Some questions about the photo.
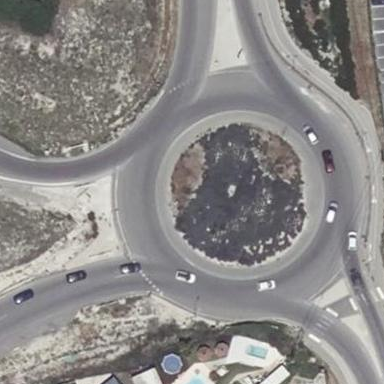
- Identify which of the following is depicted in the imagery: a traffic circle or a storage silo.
traffic circle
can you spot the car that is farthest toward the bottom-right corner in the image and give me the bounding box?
[348,266,361,286]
